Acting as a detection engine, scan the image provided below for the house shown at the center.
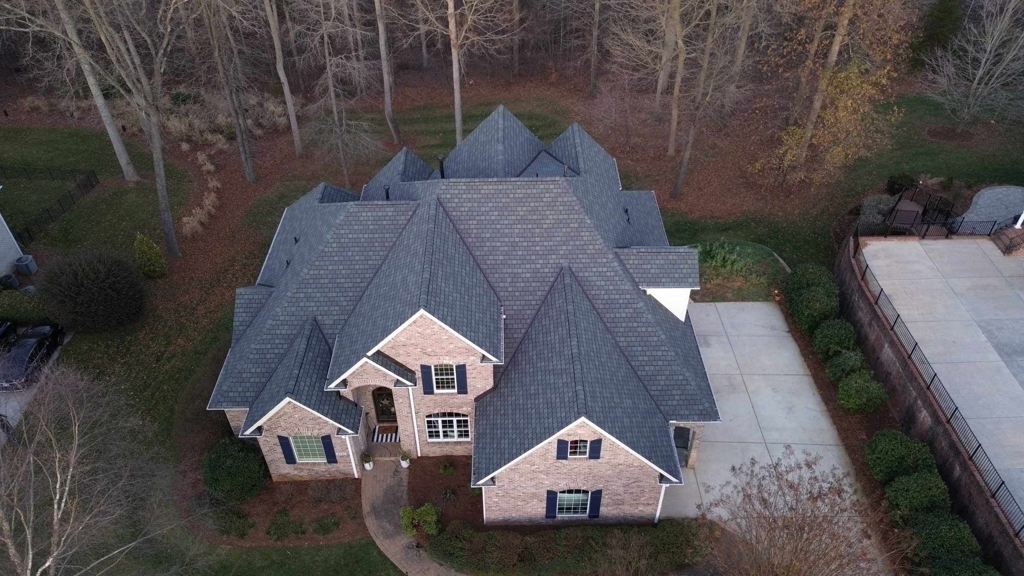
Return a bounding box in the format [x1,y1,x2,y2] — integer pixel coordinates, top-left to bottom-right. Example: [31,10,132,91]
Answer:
[204,105,725,529]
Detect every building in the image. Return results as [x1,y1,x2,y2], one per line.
[0,216,22,275]
[204,105,725,529]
